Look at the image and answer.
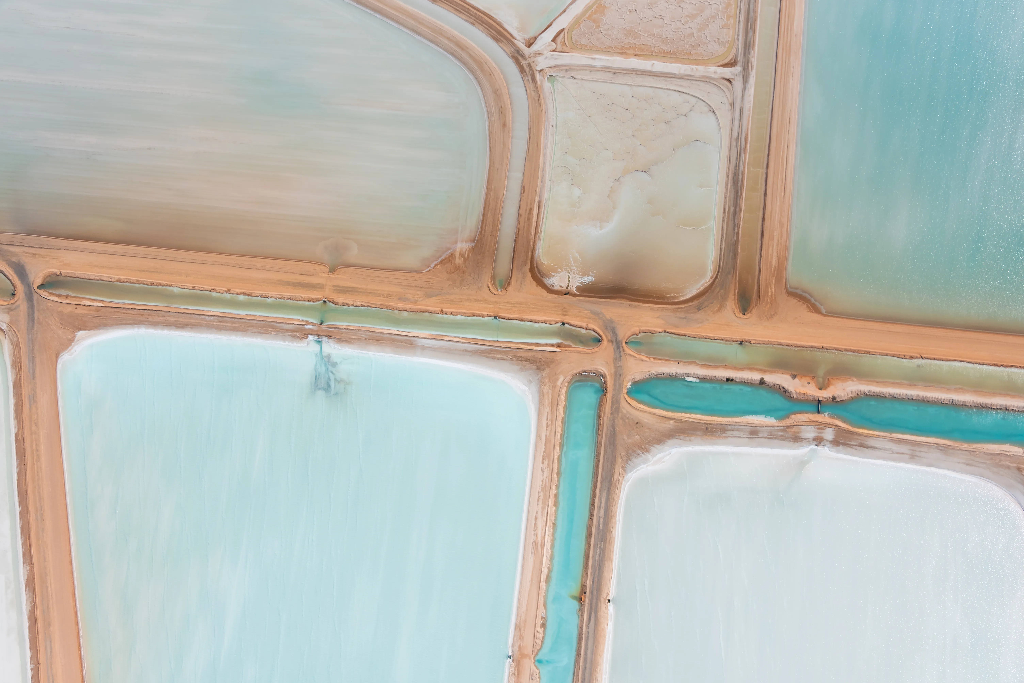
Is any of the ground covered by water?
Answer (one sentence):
Yes, there's water in this view.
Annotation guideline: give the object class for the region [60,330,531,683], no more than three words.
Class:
pond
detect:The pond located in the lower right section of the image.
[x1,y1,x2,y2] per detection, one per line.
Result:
[606,451,1024,683]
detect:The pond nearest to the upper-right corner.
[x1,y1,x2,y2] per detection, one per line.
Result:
[786,0,1024,335]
